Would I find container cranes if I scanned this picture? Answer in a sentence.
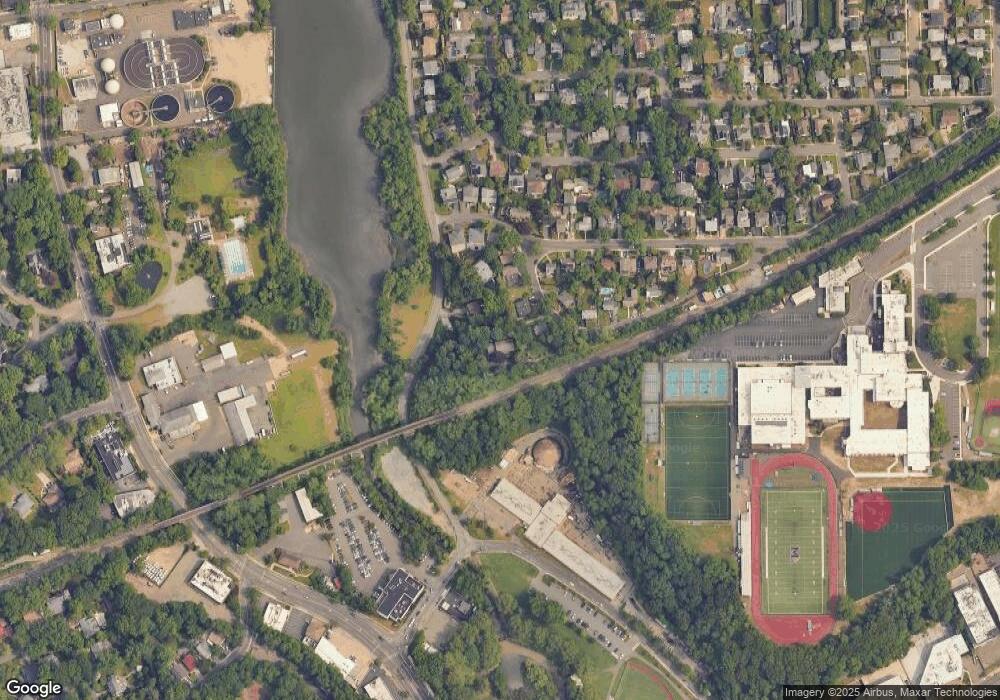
No, the frame has no container crane in it.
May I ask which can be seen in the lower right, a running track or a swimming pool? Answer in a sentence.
What appears in the lower right is a running track.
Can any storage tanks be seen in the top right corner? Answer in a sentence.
No, there's no storage tank to be seen in the top right corner.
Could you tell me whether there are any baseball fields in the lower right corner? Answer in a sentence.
Yes, a baseball field is visible in the lower right corner.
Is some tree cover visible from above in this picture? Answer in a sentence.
Yes, tree cover can be seen from above here.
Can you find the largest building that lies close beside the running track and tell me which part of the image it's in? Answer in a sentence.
You can find the largest building that lies close beside the running track in the right area of the picture.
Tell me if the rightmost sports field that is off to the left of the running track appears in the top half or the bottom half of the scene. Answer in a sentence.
The rightmost sports field that is off to the left of the running track sits in the bottom half of the picture.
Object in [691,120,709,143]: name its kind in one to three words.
house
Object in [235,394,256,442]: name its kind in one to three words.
shed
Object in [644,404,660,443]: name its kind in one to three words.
basketball court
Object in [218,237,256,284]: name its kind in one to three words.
swimming pool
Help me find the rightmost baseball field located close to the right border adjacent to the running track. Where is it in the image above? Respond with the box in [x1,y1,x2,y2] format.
[846,485,954,602]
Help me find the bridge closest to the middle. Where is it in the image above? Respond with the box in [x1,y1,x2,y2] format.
[233,413,432,500]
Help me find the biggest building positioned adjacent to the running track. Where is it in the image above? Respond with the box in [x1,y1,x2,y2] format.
[738,280,930,473]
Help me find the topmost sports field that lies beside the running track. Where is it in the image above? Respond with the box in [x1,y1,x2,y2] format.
[665,405,731,519]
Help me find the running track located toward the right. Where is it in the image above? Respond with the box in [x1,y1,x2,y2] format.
[752,453,837,643]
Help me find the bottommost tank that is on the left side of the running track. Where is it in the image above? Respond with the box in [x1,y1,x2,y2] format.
[532,440,562,472]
